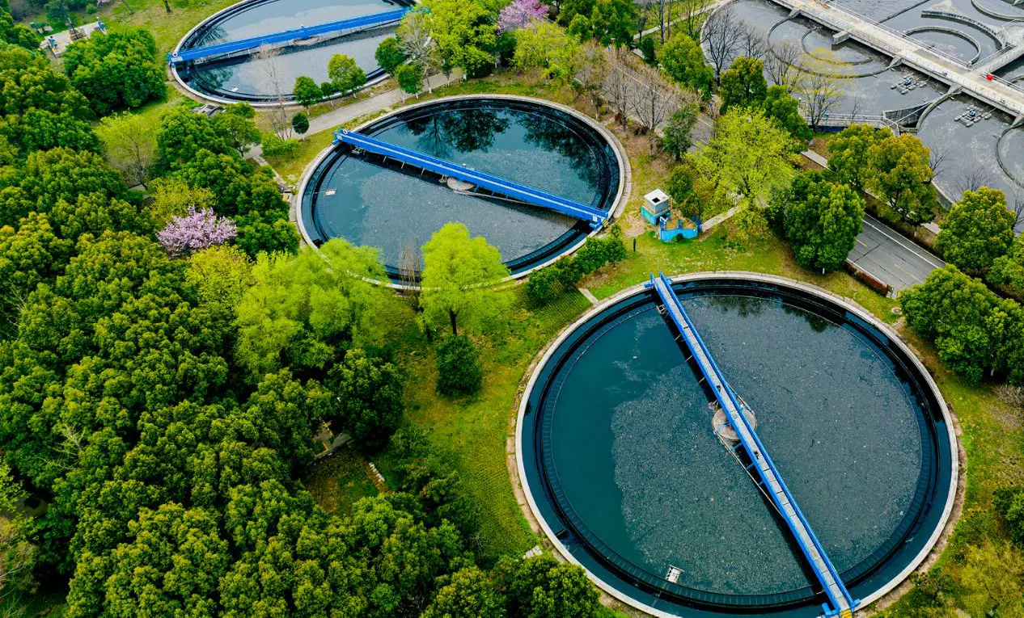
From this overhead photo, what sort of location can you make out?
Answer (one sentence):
What you see here is an industrial area.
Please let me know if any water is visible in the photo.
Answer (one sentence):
Yes, there's water in this view.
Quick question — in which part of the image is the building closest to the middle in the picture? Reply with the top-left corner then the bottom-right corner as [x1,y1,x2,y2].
[640,189,670,226]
